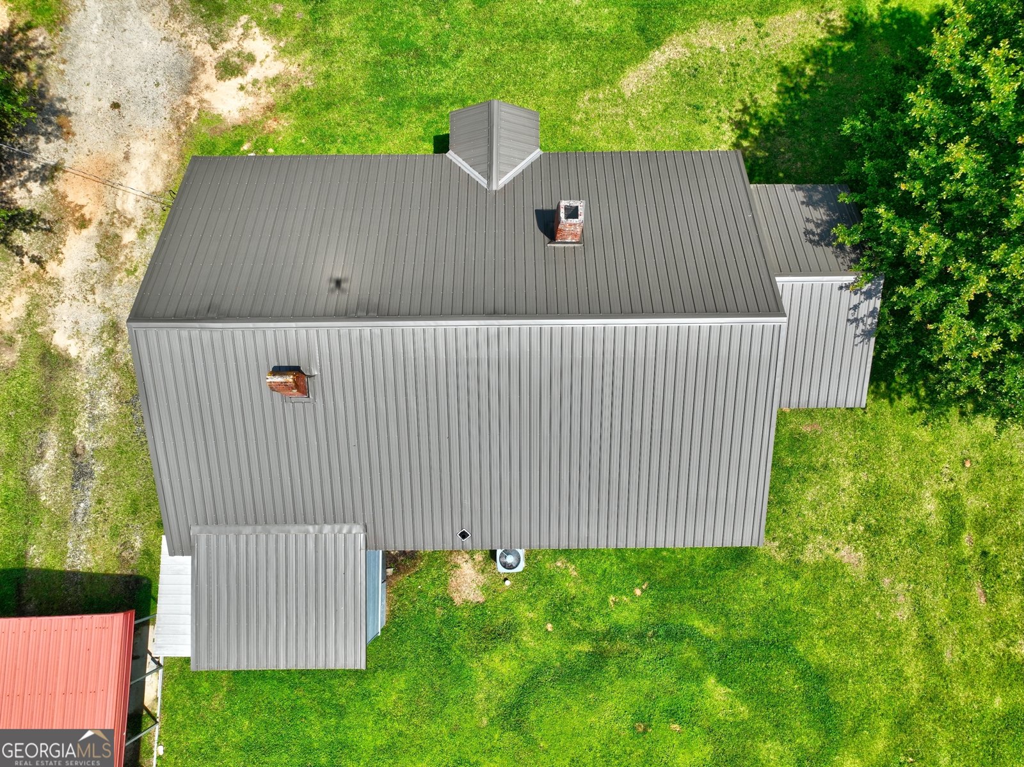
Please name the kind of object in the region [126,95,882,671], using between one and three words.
house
